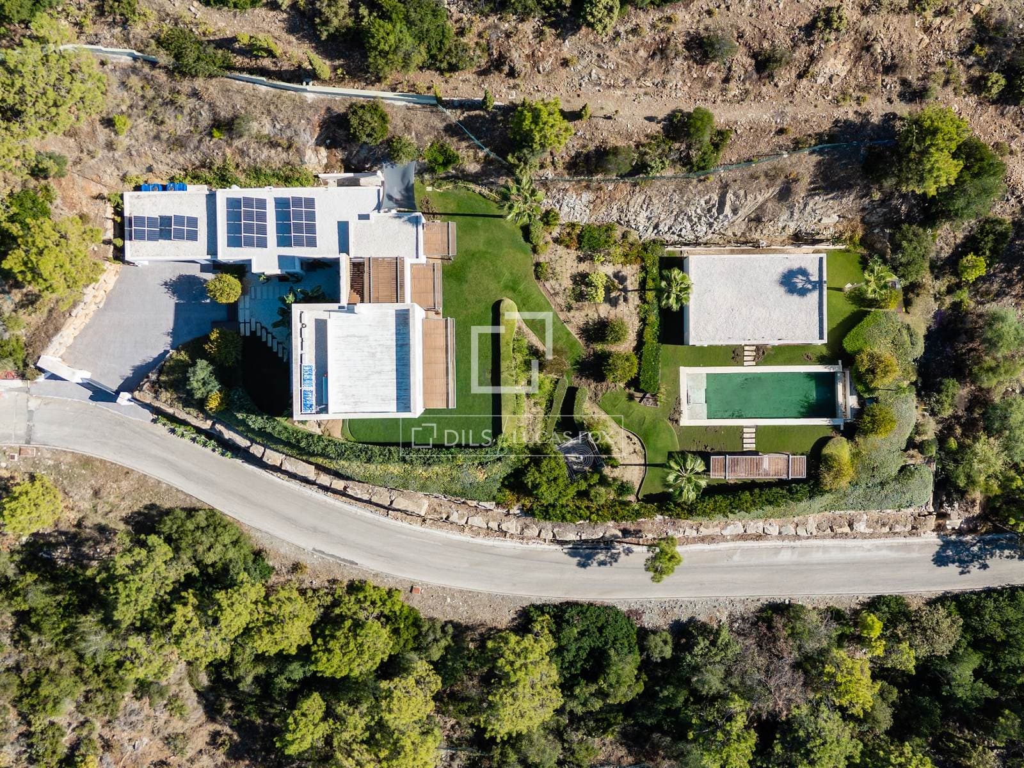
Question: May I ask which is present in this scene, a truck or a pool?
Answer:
pool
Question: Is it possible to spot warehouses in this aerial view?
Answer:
No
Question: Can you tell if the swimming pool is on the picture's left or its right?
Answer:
right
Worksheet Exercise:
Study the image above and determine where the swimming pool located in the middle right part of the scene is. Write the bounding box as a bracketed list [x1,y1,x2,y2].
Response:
[680,360,859,430]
